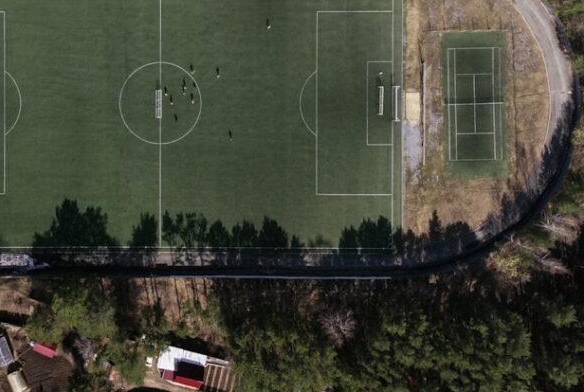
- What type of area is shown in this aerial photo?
sports ground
